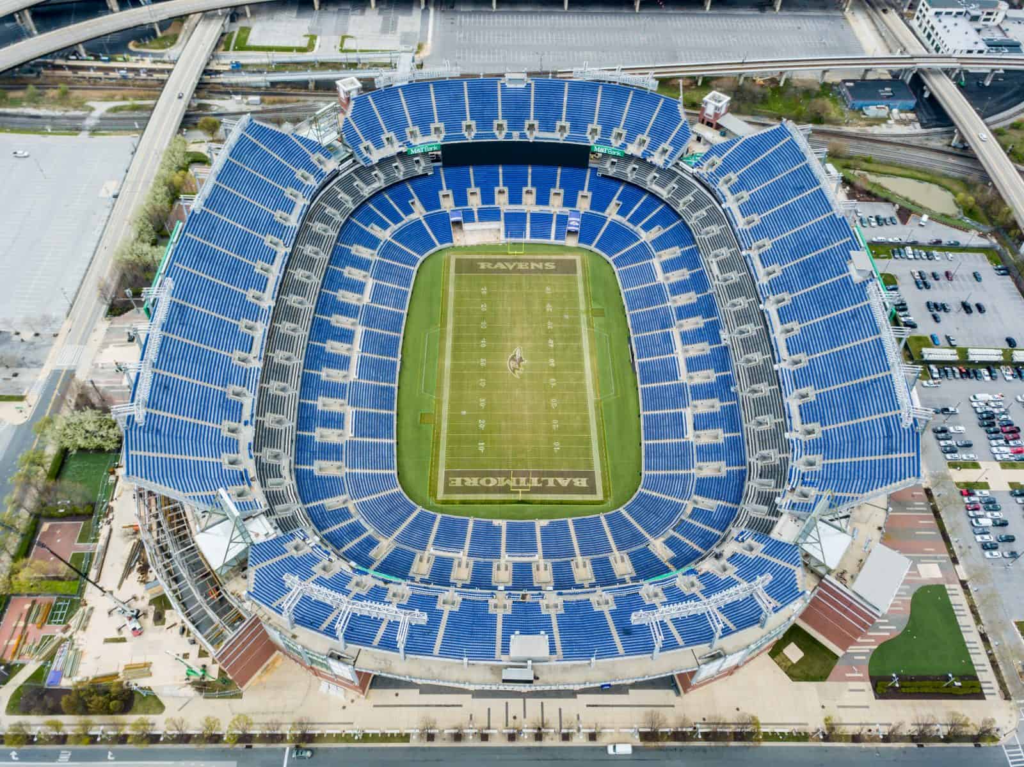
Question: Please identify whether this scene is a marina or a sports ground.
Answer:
sports ground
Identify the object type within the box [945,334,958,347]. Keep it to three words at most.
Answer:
vehicle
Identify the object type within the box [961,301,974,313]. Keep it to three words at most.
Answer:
vehicle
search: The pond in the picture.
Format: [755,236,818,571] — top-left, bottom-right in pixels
[857,169,959,215]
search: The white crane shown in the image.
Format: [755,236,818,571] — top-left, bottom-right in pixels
[34,539,156,638]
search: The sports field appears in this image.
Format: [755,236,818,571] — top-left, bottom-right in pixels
[395,241,643,519]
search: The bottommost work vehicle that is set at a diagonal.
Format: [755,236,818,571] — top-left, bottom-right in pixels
[165,648,210,679]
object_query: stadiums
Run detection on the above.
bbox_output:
[122,75,923,693]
